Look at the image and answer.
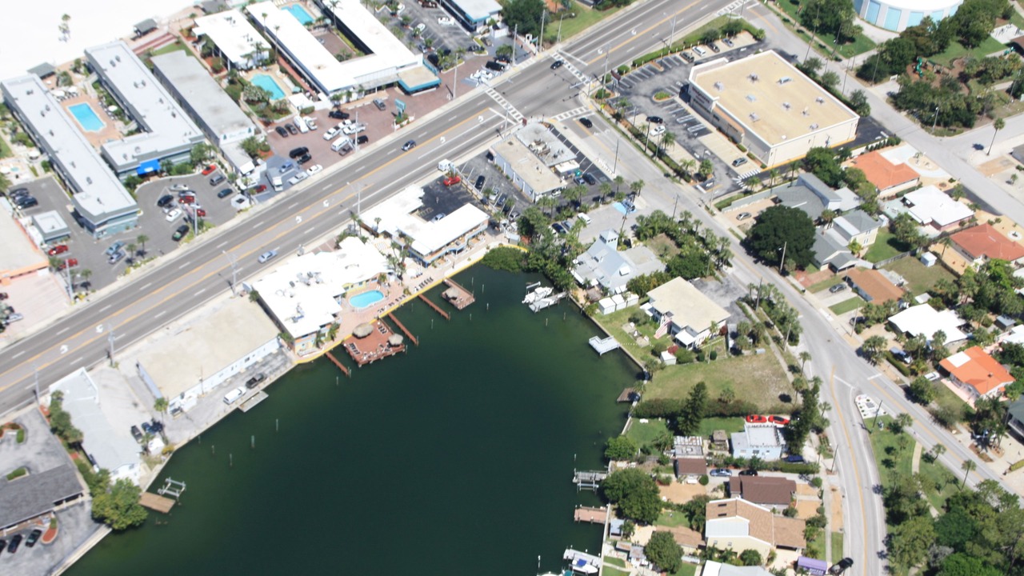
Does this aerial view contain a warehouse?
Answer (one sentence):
Yes, the photo shows a warehouse.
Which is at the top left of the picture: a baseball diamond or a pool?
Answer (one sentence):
It is a pool that can be seen at the top left of the picture.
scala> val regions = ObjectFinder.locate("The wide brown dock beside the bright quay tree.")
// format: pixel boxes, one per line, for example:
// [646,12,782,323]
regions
[139,490,176,517]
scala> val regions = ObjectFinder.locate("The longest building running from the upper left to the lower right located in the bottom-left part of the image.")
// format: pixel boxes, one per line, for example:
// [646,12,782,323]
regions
[49,366,139,483]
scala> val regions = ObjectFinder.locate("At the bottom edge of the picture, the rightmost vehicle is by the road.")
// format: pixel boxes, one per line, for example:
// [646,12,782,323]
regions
[830,554,855,571]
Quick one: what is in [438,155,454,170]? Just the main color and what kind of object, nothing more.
white vehicle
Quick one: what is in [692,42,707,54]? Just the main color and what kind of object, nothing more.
white vehicle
